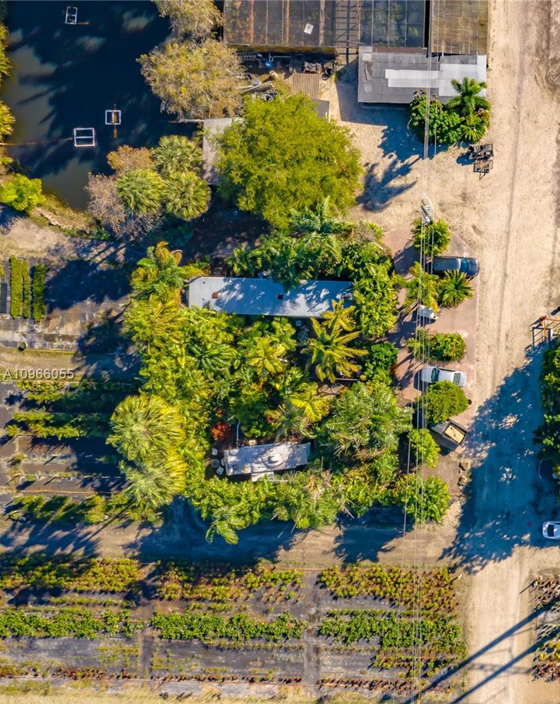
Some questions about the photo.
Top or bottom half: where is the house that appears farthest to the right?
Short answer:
top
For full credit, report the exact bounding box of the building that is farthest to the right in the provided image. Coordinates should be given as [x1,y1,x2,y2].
[429,0,488,65]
